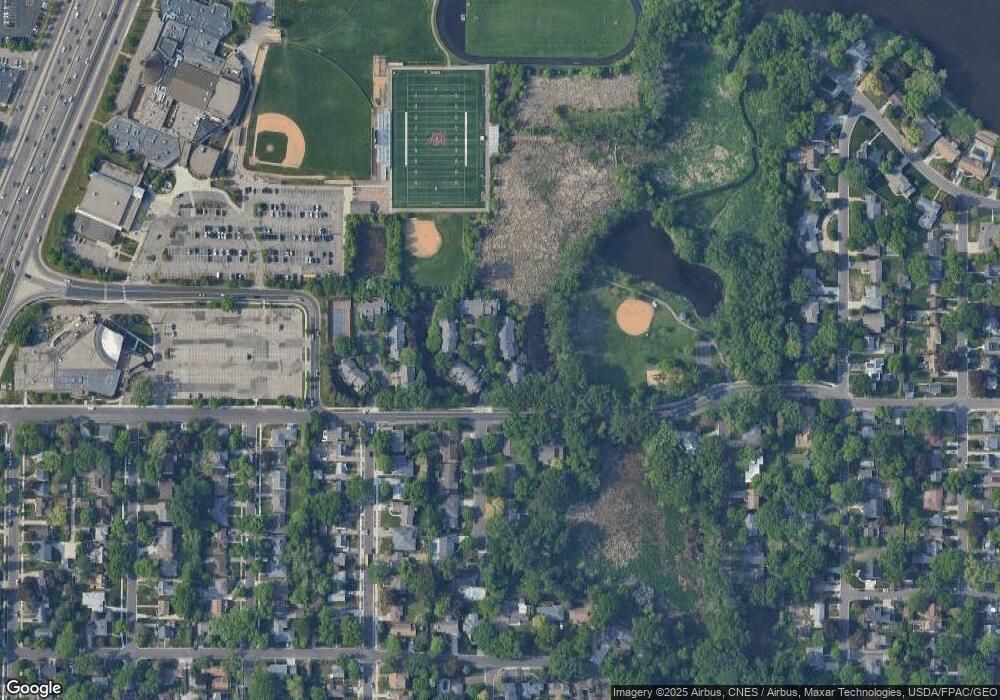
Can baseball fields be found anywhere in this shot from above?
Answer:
Yes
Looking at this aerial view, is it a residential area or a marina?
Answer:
residential area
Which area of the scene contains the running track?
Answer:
top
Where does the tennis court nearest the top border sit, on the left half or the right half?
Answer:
left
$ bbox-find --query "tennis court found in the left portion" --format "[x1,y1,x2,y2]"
[329,300,351,341]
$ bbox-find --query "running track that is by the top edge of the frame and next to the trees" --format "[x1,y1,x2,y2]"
[437,0,643,65]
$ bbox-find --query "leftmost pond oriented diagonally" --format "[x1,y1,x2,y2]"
[600,208,723,318]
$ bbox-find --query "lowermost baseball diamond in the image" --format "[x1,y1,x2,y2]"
[616,299,654,336]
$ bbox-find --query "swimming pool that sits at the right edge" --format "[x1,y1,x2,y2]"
[970,143,991,162]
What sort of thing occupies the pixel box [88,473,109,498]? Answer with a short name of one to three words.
house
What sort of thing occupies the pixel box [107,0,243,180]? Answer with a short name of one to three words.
building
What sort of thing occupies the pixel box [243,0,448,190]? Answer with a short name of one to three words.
baseball field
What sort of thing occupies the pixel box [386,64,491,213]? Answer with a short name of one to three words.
sports field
